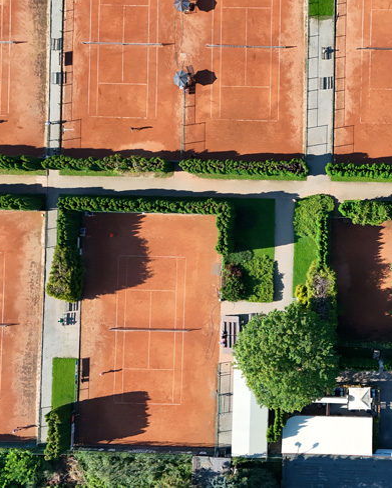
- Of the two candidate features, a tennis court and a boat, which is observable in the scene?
tennis court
